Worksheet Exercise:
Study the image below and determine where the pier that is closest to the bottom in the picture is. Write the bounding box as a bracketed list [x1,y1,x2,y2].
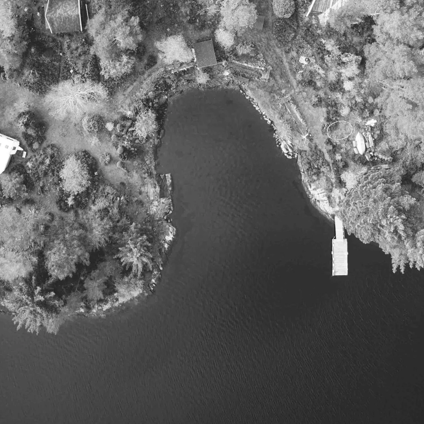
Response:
[331,239,349,277]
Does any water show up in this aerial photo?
Yes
